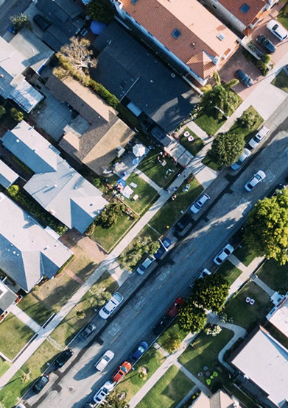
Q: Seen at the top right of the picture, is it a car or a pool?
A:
car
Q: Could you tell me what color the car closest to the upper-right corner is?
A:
white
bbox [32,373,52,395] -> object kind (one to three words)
car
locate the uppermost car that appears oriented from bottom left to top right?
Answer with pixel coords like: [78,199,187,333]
[249,126,268,147]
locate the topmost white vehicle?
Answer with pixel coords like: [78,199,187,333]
[266,21,288,40]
